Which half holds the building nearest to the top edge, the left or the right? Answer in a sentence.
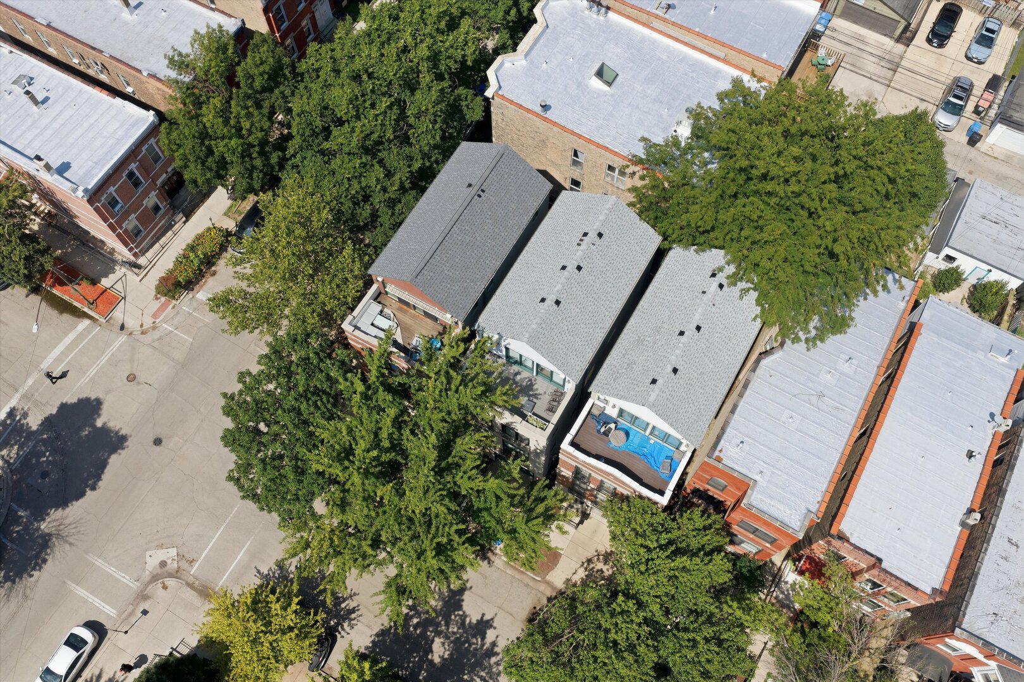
The building nearest to the top edge appears in the right half of the scene.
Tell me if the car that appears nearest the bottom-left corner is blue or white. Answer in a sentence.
The car that appears nearest the bottom-left corner looks white in the image.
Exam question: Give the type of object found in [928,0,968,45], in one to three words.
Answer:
car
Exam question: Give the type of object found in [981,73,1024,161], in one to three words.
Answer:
building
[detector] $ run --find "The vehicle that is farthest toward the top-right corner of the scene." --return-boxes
[969,5,1011,60]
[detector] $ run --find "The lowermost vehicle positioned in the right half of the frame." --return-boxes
[938,65,985,128]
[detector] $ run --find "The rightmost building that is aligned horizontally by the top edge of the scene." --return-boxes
[835,0,923,38]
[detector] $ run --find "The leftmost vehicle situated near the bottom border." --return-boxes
[28,622,100,682]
